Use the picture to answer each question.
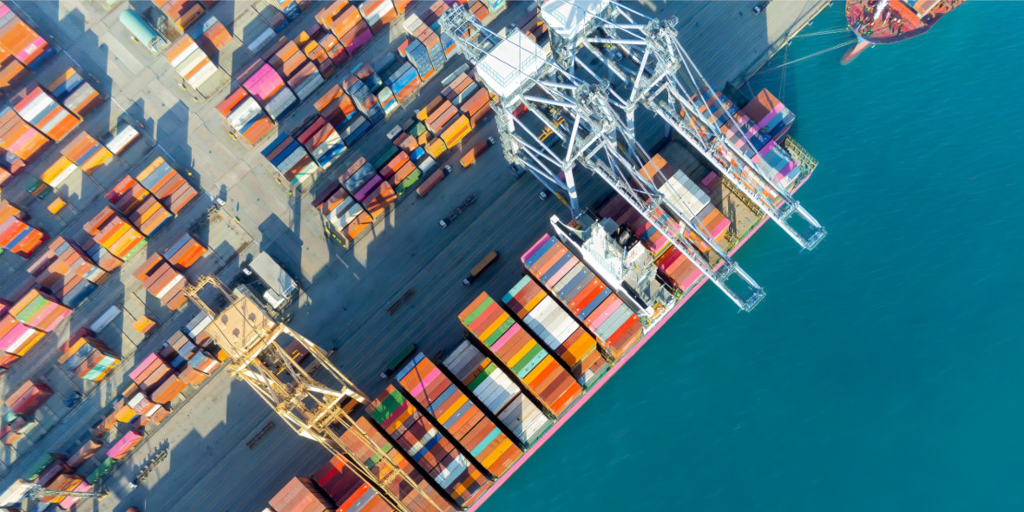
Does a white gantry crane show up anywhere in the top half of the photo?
Yes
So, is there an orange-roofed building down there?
No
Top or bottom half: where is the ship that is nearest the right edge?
top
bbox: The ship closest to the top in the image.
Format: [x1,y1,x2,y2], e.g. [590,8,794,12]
[842,0,965,63]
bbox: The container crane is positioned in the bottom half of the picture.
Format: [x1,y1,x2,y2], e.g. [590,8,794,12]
[184,260,426,512]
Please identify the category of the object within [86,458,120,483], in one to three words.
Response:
shipping container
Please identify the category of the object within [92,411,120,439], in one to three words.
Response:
shipping container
